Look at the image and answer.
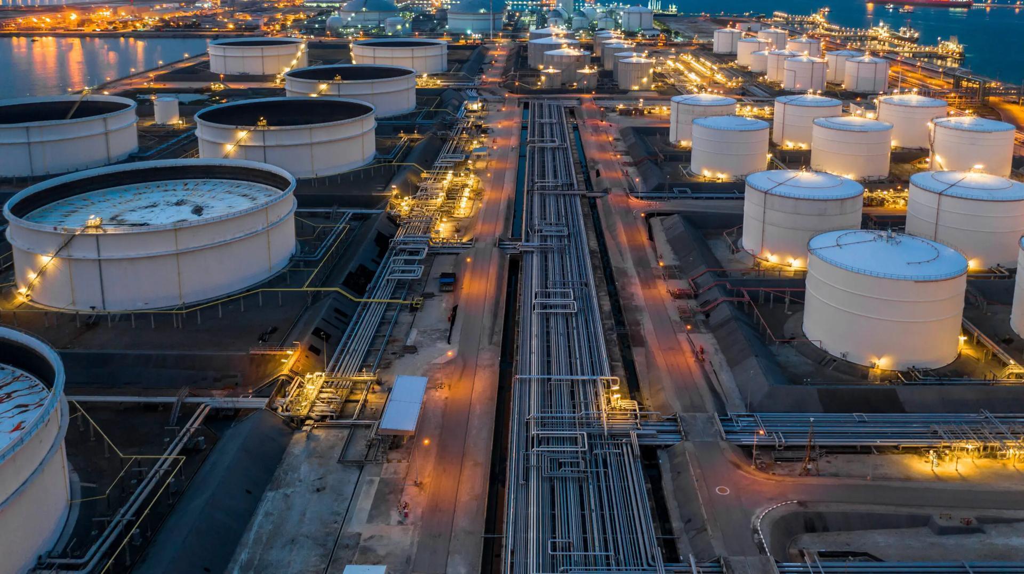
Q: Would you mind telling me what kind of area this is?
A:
industrial area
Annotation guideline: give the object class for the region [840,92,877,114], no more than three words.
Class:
shed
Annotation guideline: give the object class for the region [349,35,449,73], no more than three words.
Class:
storage tank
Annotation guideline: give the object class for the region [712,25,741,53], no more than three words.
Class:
storage tank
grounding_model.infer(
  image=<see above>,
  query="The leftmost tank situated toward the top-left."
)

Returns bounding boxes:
[0,93,144,178]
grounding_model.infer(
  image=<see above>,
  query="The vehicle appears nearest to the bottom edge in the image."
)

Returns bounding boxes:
[440,272,457,289]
